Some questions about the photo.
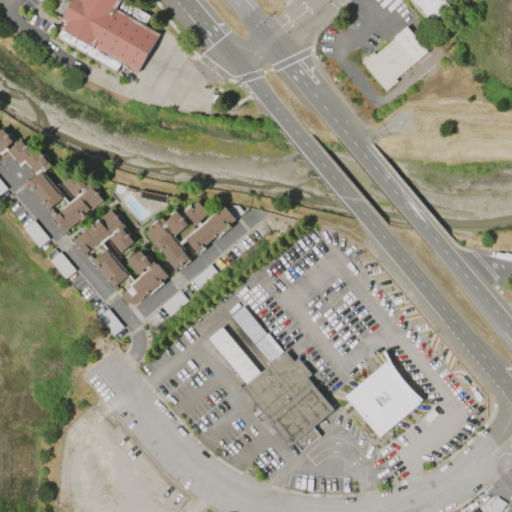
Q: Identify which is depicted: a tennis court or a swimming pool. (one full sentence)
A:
There is a swimming pool in the scene.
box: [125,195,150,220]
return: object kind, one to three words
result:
swimming pool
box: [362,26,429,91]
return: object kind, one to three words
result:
building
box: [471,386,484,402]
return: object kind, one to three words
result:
vehicle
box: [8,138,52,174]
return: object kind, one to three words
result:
house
